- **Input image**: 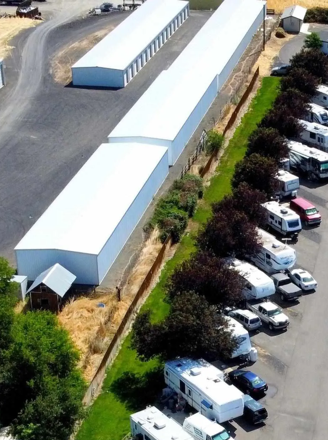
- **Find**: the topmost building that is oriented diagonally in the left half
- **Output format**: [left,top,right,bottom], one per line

[71,0,190,87]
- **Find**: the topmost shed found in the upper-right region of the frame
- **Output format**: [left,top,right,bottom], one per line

[280,9,310,32]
